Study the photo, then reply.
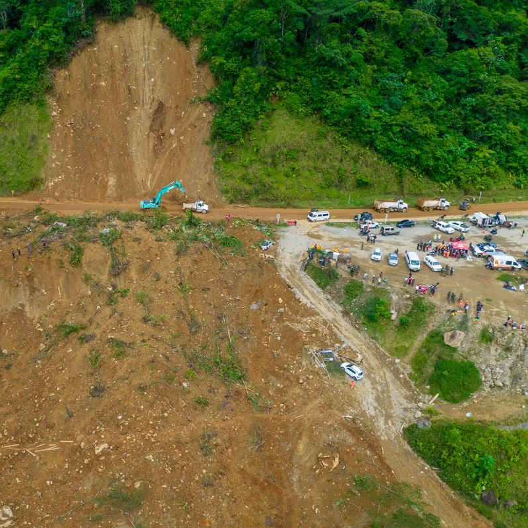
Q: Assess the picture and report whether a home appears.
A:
No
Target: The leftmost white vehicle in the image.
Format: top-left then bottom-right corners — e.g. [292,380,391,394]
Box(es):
[181,198,210,213]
